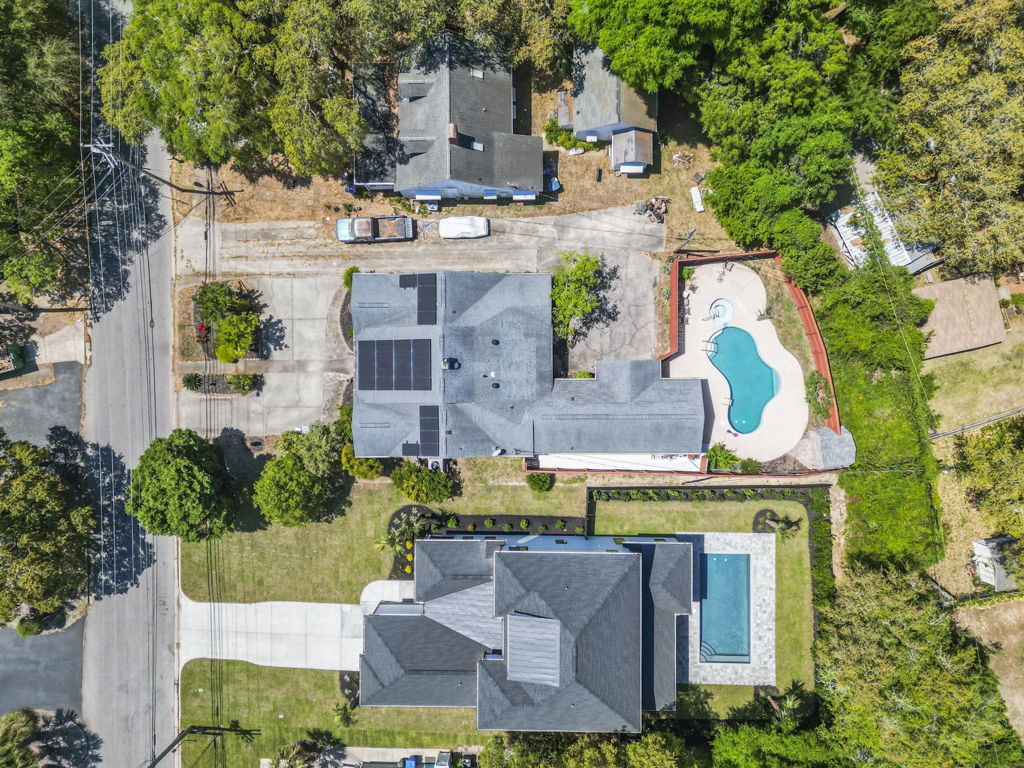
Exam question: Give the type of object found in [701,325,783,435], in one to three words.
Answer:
swimming pool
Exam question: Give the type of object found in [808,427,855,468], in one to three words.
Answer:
shed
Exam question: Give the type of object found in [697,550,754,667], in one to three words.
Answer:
swimming pool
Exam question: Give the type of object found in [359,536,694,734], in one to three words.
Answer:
house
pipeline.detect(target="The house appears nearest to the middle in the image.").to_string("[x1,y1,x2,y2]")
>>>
[351,271,704,459]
